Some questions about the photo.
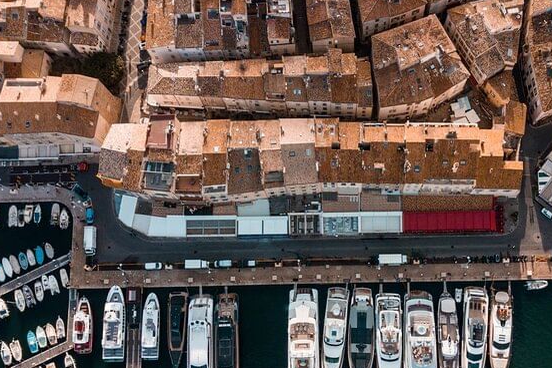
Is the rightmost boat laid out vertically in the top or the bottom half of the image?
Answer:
bottom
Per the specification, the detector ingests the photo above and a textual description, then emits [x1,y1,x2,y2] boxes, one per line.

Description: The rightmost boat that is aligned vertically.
[488,272,514,368]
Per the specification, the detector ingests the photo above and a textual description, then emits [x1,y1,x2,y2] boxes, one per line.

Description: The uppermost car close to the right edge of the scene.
[538,205,552,219]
